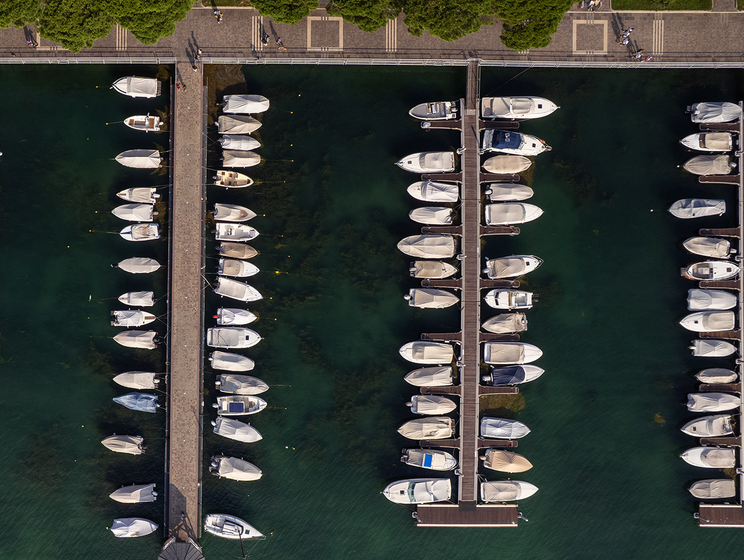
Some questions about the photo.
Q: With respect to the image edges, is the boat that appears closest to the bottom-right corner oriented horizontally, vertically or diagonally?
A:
horizontally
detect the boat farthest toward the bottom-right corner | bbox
[684,476,740,501]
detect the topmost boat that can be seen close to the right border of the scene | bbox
[680,98,743,125]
